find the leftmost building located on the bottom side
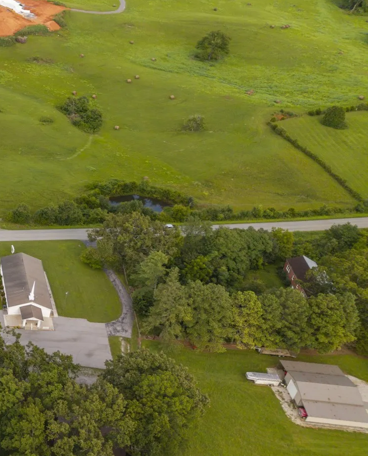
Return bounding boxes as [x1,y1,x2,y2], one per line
[0,253,55,335]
